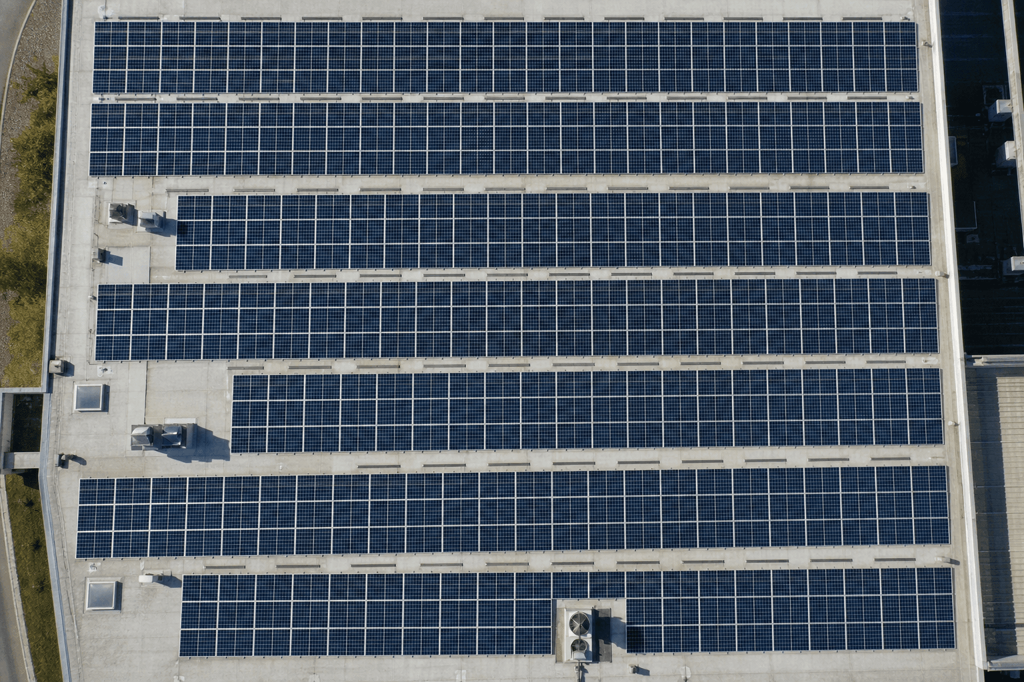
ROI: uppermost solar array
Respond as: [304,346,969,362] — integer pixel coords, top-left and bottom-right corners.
[92,22,919,95]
